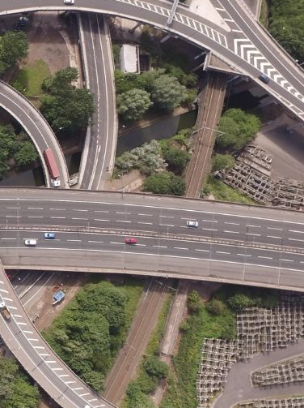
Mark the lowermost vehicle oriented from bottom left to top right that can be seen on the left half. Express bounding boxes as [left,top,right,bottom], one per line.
[49,289,65,307]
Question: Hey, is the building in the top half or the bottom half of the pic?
top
